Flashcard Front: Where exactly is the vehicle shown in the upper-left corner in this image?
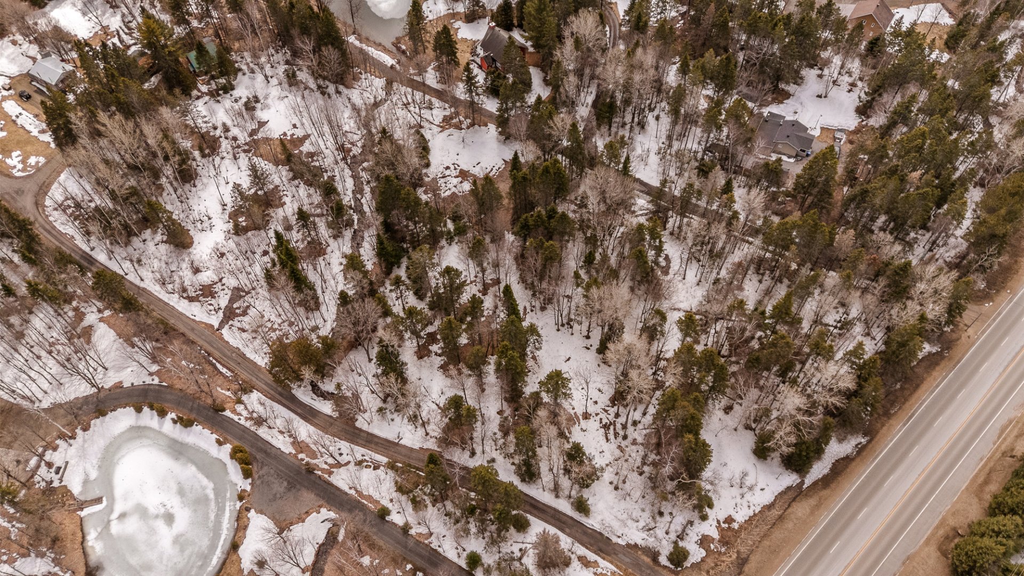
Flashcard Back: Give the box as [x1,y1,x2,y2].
[15,89,31,101]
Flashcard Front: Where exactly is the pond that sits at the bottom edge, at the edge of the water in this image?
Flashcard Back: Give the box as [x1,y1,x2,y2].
[79,429,239,576]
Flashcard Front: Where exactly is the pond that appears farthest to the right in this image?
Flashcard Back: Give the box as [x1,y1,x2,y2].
[327,0,410,53]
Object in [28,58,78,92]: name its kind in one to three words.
house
